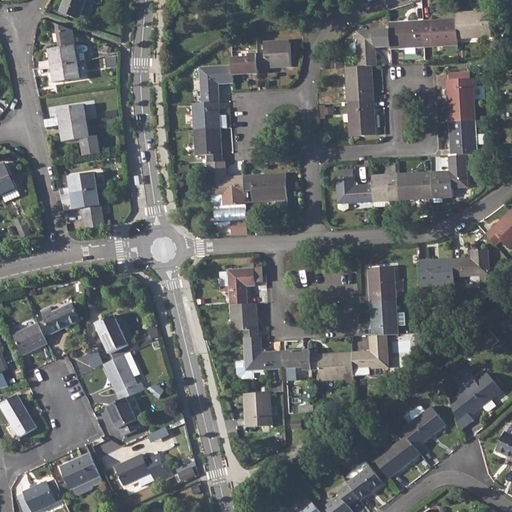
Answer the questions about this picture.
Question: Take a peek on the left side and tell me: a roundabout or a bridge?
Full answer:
The one visible on the left side is a roundabout.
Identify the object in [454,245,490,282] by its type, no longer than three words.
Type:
house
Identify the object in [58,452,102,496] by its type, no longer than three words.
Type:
house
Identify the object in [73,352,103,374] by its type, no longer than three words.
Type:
shed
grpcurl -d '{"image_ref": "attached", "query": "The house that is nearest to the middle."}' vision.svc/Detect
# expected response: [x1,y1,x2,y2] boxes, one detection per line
[219,266,268,304]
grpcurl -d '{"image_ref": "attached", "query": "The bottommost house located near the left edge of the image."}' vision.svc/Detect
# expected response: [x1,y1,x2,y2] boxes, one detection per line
[17,482,54,512]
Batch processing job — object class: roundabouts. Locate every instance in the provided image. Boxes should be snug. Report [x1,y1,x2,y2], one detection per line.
[130,216,190,280]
